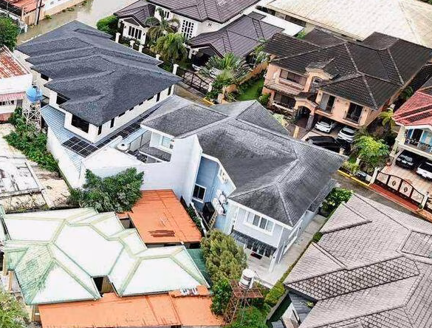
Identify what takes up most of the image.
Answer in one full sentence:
Most of the picture is covered by buildings.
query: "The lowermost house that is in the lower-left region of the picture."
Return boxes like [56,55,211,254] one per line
[0,189,226,328]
